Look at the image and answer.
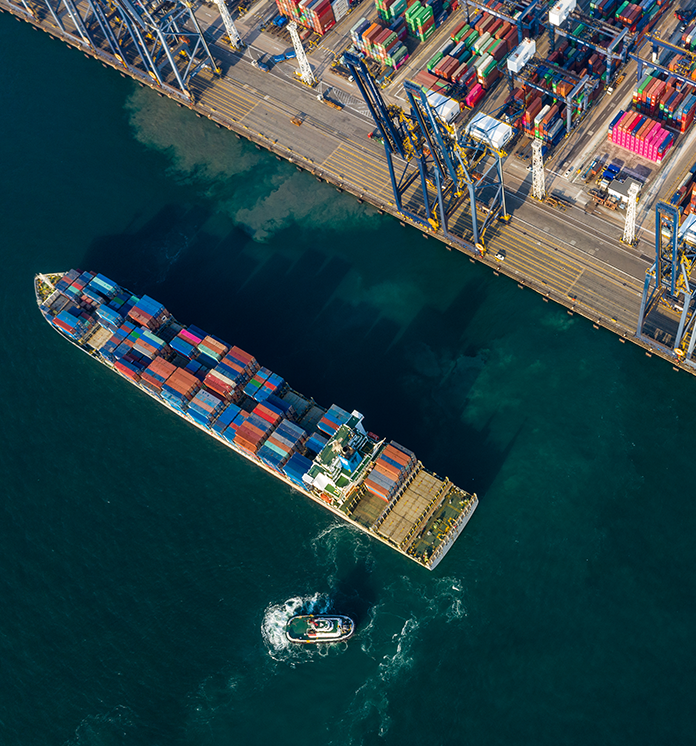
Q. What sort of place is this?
port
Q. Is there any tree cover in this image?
No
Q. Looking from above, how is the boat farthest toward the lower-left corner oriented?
from left to right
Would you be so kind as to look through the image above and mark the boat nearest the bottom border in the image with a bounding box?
[287,615,357,643]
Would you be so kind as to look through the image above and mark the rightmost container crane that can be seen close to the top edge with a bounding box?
[627,31,696,96]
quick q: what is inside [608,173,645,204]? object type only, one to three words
shed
